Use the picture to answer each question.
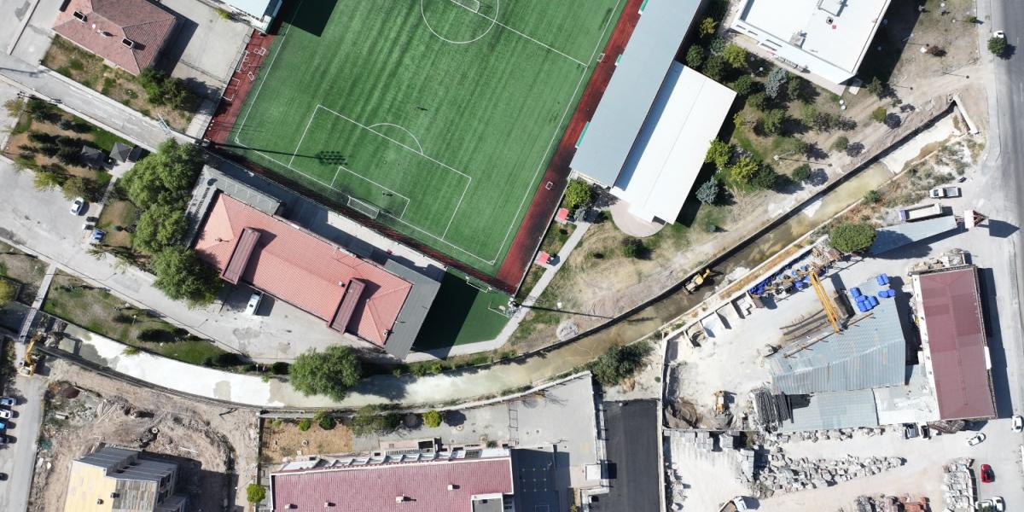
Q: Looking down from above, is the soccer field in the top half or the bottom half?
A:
top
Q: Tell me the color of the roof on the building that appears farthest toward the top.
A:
white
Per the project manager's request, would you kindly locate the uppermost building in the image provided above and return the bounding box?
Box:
[226,0,299,35]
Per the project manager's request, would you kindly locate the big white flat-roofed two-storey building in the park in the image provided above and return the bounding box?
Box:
[729,0,891,82]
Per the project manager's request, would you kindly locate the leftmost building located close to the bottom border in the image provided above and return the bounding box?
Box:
[63,450,189,512]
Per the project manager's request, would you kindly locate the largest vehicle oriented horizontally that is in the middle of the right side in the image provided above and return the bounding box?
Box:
[898,205,943,224]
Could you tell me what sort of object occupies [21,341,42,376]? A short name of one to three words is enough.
work vehicle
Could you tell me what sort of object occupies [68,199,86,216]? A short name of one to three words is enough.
car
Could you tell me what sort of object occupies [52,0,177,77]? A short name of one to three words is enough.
house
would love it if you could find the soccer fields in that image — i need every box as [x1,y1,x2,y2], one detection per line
[205,0,649,295]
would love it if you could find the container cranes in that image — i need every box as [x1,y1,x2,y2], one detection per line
[804,267,840,334]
